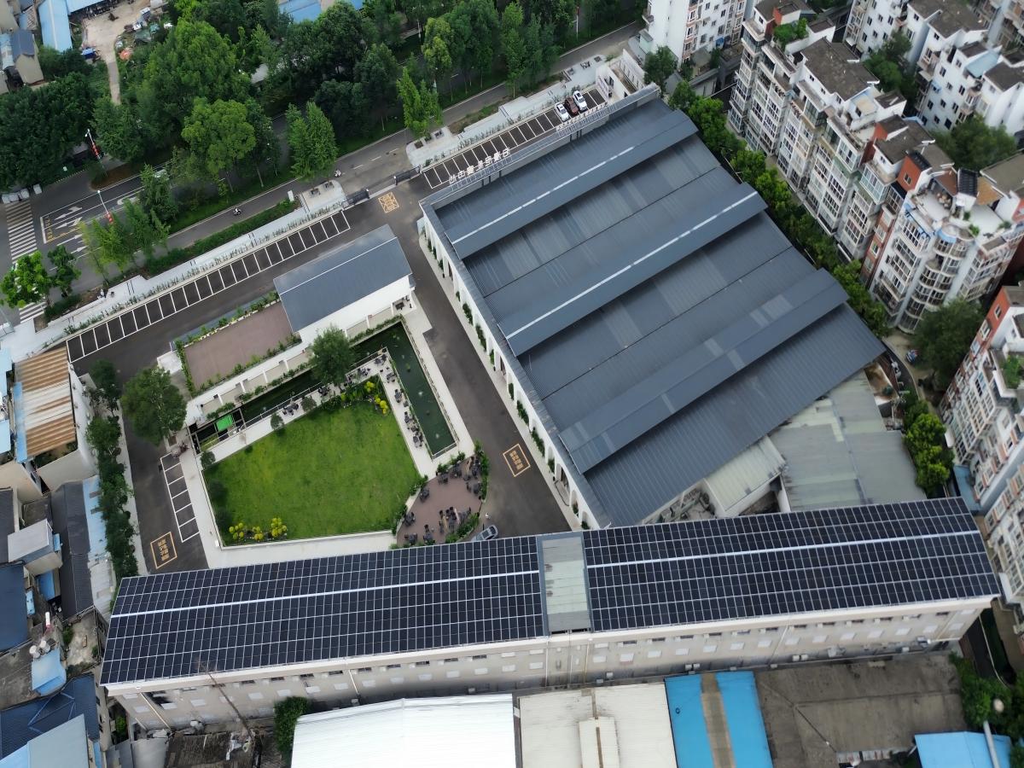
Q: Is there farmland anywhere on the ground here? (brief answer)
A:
No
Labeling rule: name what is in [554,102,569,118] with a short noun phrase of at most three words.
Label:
car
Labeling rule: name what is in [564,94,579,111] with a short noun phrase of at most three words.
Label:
car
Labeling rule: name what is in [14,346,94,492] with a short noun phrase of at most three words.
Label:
house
